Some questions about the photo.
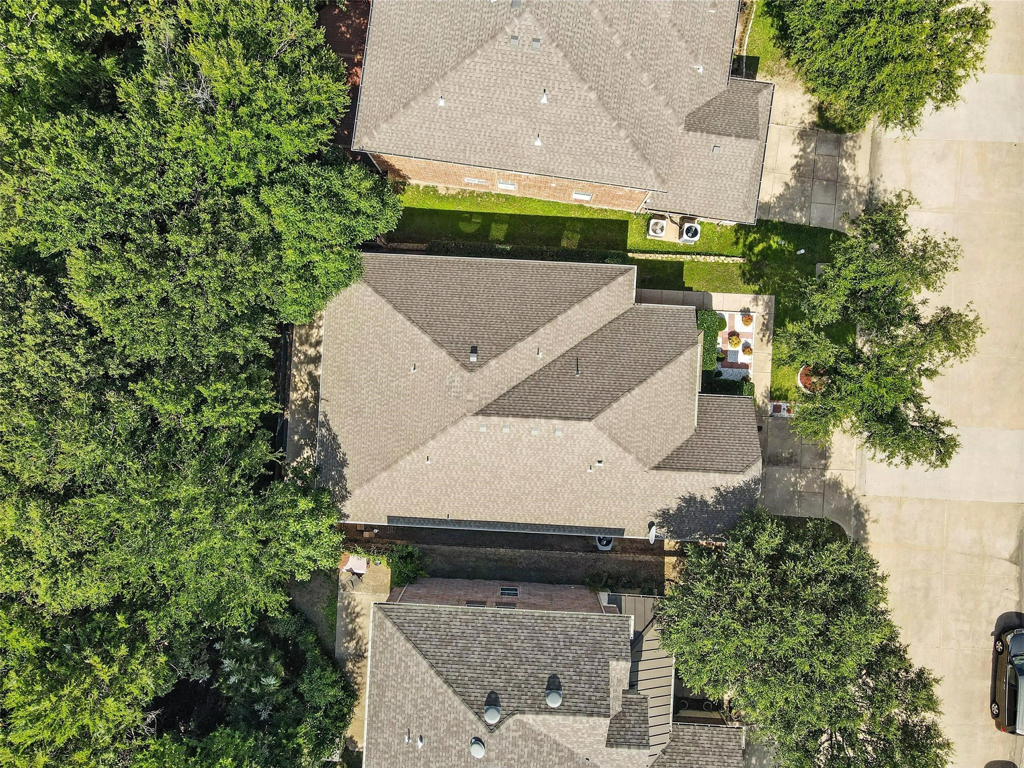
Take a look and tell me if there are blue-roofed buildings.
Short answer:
No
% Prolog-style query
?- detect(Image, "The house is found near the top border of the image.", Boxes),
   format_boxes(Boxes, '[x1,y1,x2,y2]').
[350,0,777,227]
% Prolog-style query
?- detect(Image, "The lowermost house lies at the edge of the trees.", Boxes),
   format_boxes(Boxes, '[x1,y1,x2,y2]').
[358,585,747,768]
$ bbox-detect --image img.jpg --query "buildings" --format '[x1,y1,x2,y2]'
[313,252,763,544]
[350,0,777,227]
[358,585,747,768]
